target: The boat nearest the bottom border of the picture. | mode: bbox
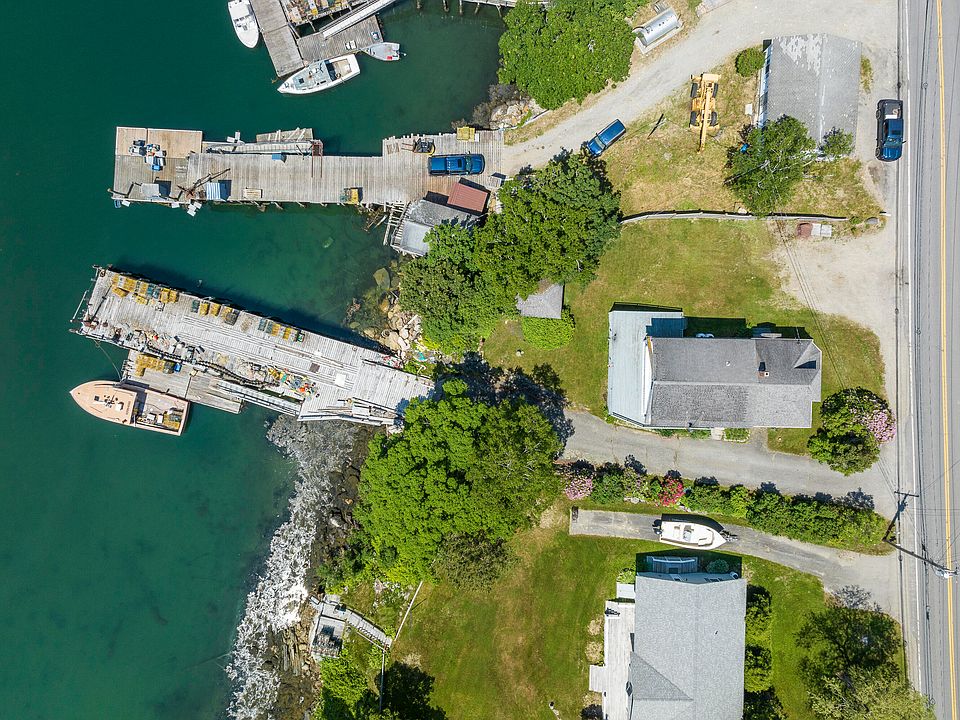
[652,519,729,547]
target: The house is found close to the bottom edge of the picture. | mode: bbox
[589,557,748,720]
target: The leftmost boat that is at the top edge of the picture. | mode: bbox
[225,0,259,51]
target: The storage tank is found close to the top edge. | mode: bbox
[631,2,691,57]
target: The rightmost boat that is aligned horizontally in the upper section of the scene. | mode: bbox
[362,41,405,60]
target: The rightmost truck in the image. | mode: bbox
[872,99,902,161]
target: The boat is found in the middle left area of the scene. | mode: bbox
[68,383,195,437]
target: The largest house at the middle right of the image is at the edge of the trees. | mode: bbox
[605,310,822,428]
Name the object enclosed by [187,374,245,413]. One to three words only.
pier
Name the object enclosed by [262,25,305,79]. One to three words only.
pier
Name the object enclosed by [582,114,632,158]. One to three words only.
car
